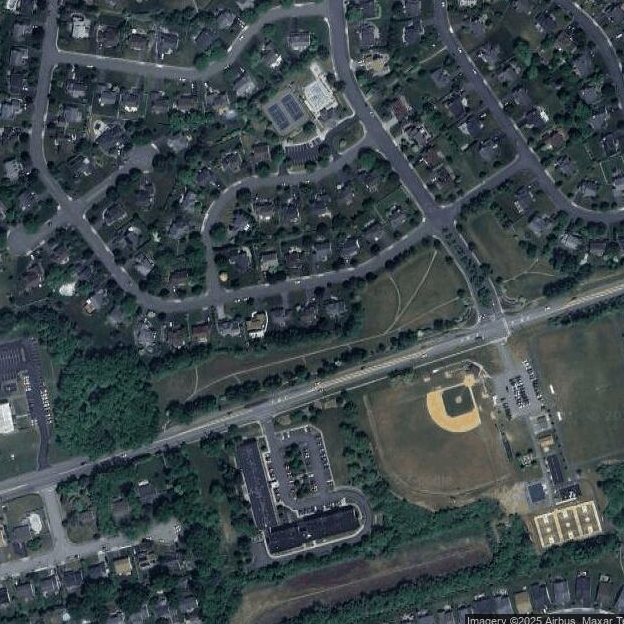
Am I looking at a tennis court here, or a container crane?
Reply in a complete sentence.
I can see a tennis court in this picture.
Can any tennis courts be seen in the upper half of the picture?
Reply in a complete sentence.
Yes, looking in the upper half of the picture, one can make out a tennis court.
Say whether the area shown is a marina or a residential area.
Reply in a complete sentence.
This looks like a residential area.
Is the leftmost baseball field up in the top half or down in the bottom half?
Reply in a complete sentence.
The bottom half of the photo is where the leftmost baseball field is.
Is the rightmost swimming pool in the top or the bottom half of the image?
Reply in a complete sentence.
Seen from above, the rightmost swimming pool lies in the top half of the view.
